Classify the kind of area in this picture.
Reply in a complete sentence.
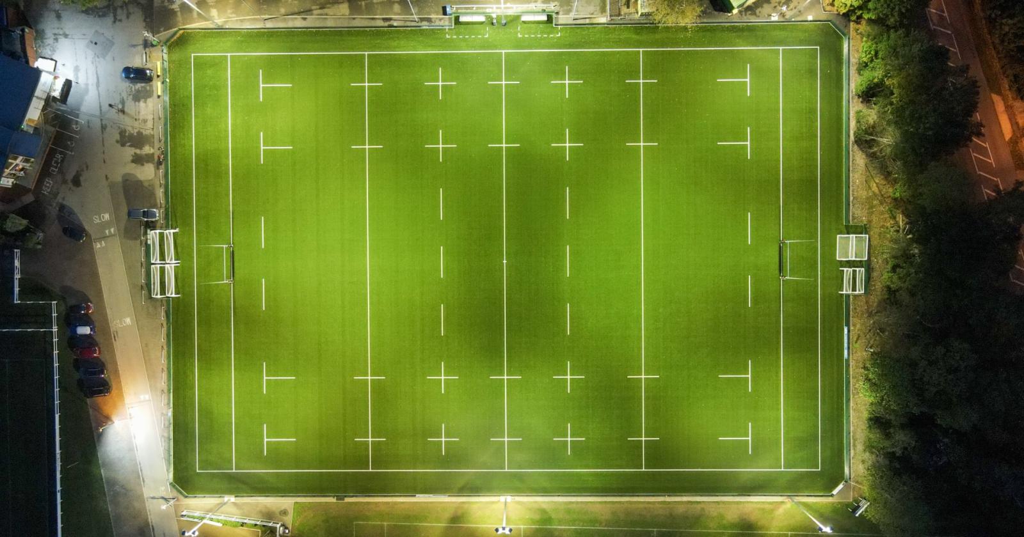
This image shows a sports ground.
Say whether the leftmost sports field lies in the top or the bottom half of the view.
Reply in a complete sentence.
You can find the leftmost sports field in the bottom half.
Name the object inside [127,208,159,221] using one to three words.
vehicle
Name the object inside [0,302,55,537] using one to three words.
sports field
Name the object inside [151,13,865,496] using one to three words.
sports field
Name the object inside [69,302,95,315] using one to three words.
vehicle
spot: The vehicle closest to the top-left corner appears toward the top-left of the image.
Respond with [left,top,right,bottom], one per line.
[122,66,153,82]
